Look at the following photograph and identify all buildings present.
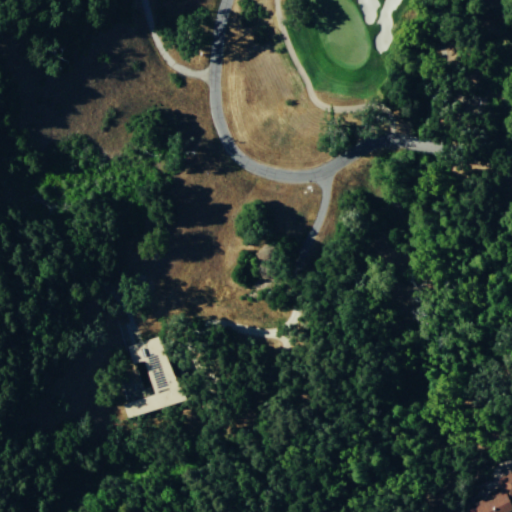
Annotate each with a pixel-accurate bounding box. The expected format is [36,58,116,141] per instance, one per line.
[124,337,183,418]
[254,240,279,280]
[474,470,512,512]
